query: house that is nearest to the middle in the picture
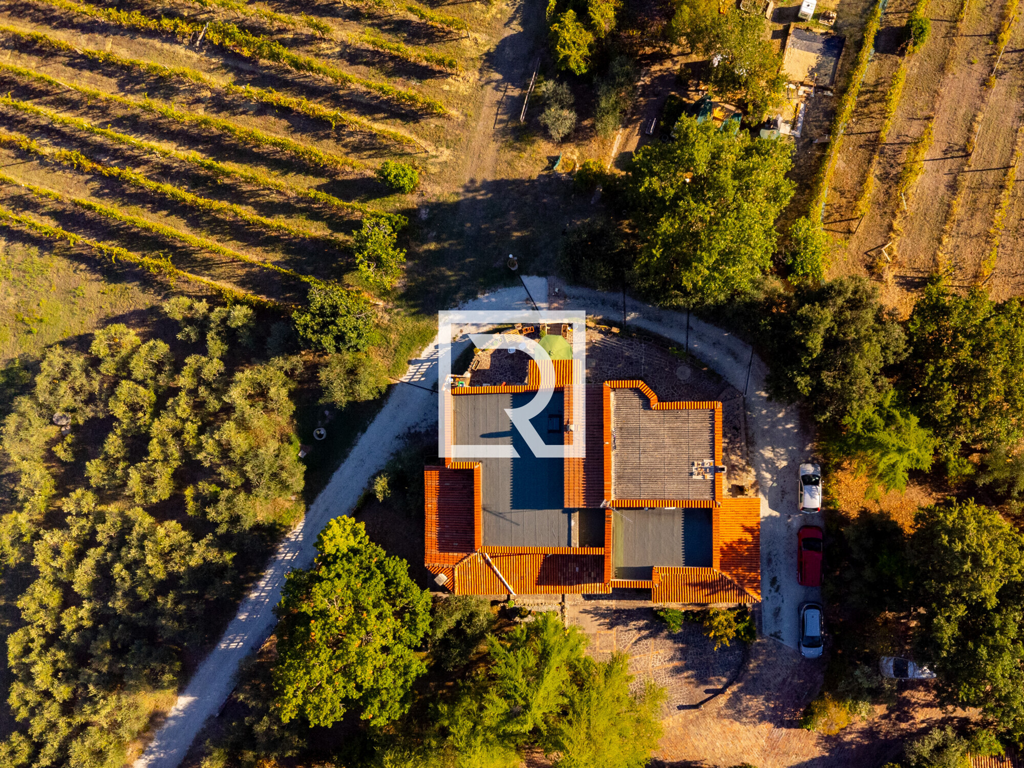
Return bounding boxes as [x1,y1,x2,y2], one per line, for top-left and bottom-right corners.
[424,359,763,604]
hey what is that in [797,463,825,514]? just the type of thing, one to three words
car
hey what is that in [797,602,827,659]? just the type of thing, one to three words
car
